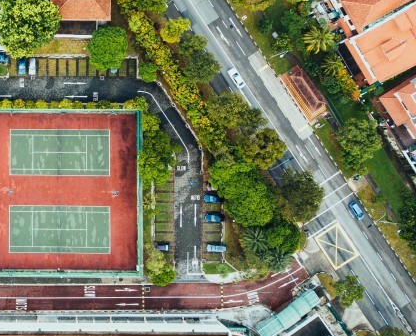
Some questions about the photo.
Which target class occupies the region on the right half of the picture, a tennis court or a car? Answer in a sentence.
The one visible on the right half of the picture is a car.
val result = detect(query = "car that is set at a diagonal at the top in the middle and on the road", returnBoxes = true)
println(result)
[228,69,245,88]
